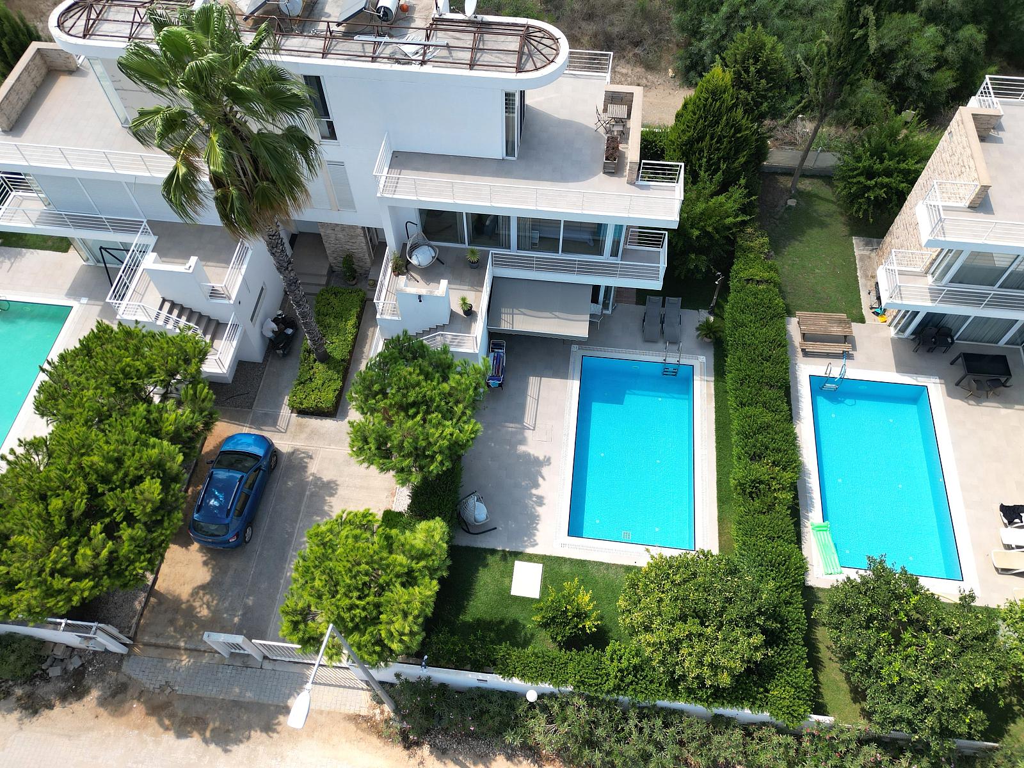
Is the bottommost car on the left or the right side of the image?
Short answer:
left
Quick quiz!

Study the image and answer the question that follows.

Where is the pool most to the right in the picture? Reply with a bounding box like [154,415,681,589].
[796,363,979,596]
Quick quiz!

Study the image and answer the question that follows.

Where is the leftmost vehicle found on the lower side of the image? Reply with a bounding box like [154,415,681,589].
[182,430,278,555]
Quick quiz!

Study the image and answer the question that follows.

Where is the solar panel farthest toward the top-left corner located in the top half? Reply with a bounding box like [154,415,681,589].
[240,0,274,21]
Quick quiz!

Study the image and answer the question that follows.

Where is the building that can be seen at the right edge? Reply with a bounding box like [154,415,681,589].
[874,76,1024,348]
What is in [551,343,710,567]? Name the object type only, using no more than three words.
swimming pool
